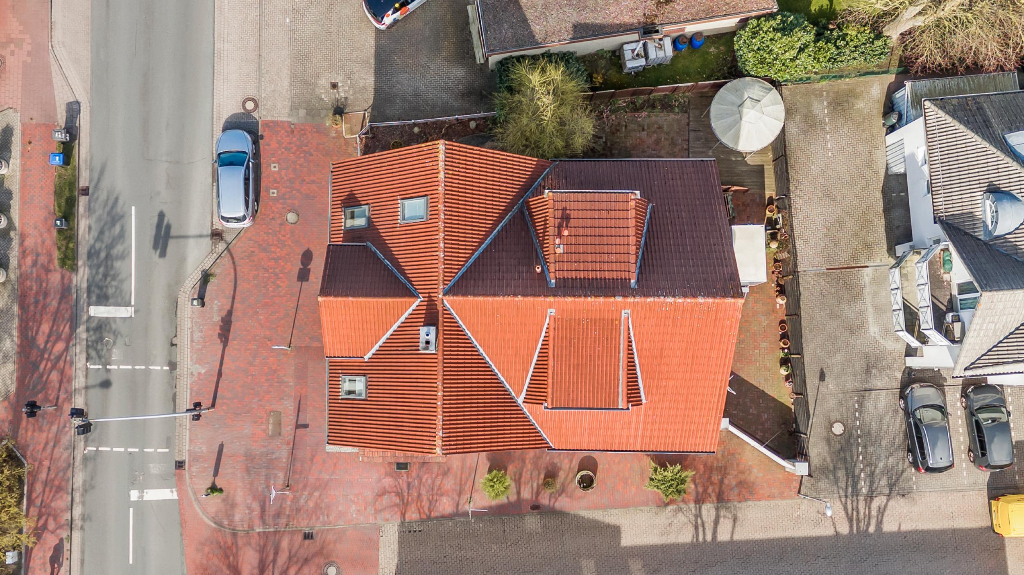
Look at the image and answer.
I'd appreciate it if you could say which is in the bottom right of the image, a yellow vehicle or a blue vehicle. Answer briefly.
yellow vehicle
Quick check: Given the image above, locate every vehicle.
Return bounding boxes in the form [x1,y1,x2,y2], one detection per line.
[961,382,1013,471]
[362,0,431,29]
[985,491,1024,533]
[899,382,951,473]
[210,129,258,226]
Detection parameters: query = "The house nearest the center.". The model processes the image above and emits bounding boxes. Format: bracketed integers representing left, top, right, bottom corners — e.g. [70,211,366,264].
[318,139,746,461]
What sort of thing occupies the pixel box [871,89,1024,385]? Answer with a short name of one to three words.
house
